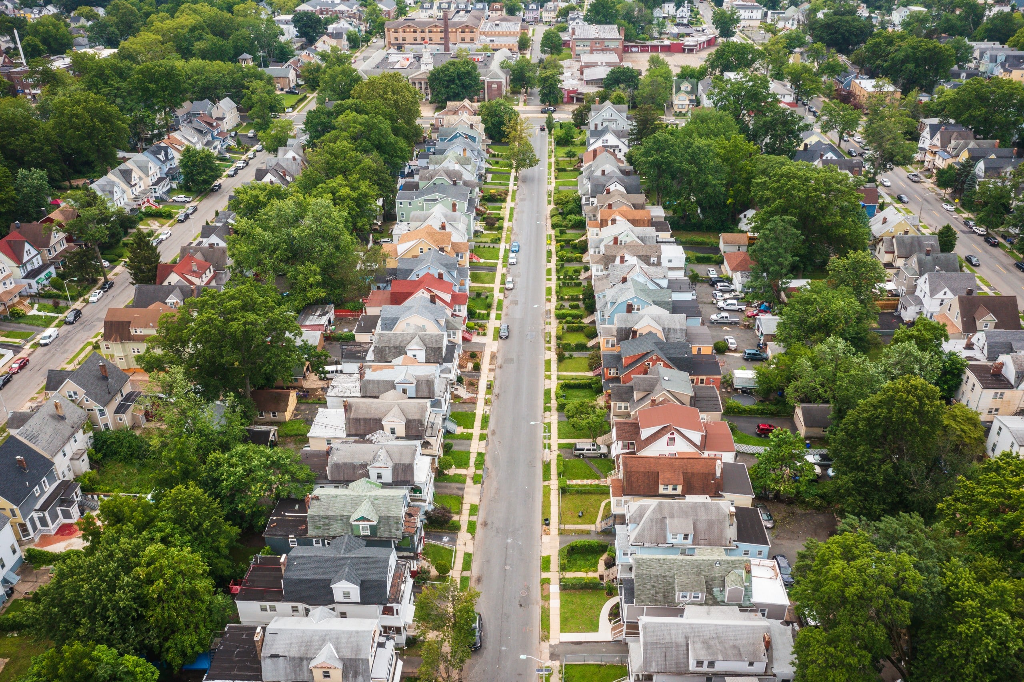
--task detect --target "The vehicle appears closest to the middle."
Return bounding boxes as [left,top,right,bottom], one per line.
[498,324,510,339]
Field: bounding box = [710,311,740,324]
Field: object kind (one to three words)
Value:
vehicle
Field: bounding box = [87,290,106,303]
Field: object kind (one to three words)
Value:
vehicle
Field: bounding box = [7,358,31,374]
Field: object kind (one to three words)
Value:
car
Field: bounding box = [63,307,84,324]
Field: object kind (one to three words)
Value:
car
